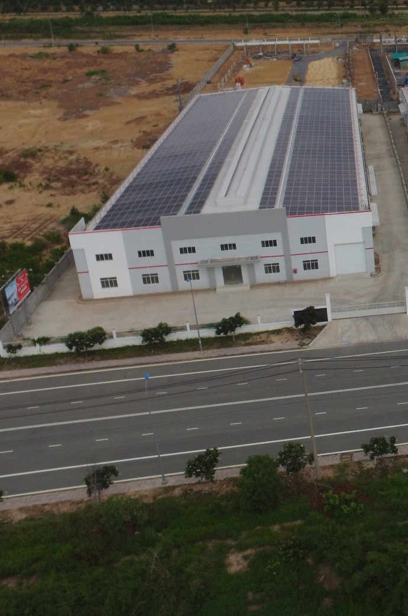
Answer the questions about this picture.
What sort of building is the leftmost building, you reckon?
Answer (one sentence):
The leftmost building can be classified as a warehouse.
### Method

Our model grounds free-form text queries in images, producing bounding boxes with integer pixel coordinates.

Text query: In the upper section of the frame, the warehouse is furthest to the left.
[68,82,387,298]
